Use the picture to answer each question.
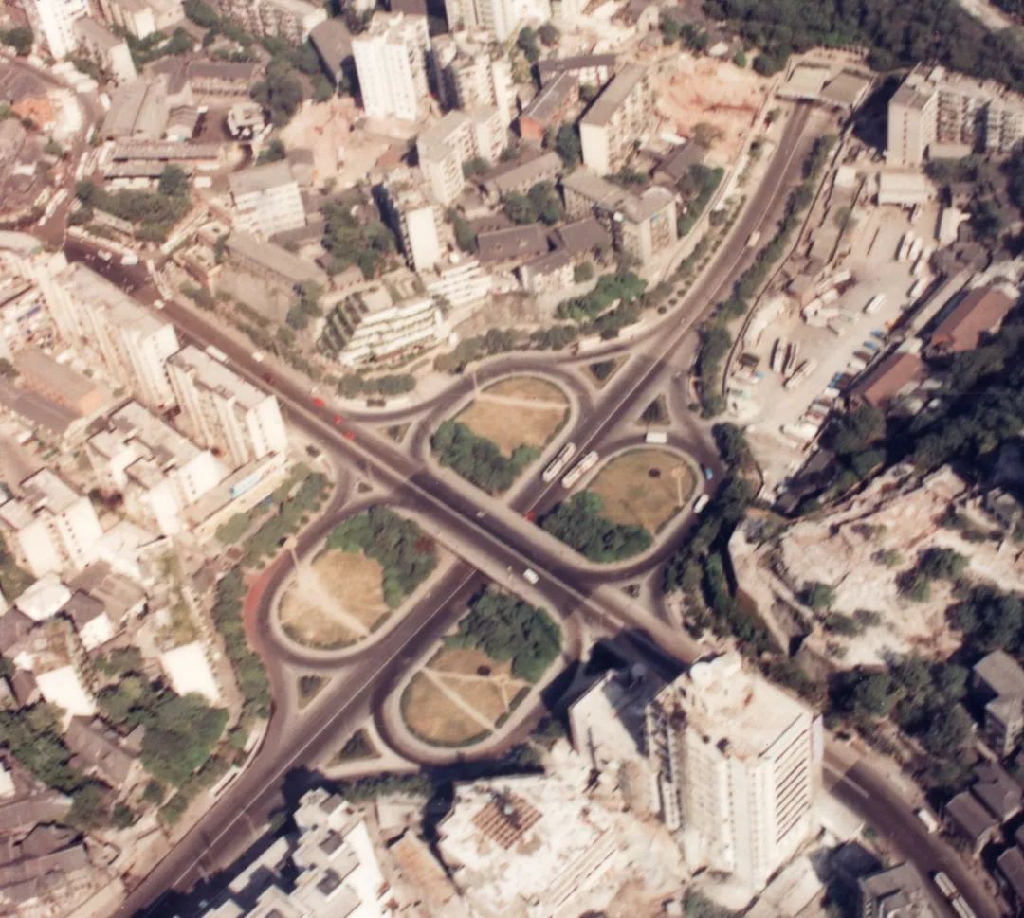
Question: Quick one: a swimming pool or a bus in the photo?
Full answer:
It is a bus that can be seen here.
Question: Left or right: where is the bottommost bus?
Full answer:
The bottommost bus sits on the right side.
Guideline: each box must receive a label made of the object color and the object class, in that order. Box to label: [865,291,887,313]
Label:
white bus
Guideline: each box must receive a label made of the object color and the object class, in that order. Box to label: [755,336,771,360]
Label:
white vehicle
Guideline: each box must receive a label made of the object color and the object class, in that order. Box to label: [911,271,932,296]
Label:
white bus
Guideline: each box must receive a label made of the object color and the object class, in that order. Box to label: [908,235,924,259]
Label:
white vehicle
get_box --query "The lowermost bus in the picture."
[936,872,973,918]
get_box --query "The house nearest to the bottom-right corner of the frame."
[995,844,1024,910]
